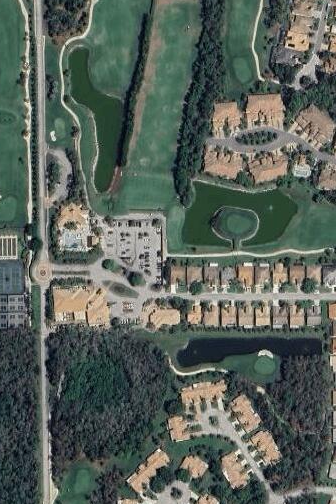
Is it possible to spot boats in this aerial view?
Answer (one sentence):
No, there appears to be no boat in this shot.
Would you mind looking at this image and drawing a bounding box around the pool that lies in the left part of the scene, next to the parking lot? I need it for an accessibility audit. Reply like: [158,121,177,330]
[60,231,89,249]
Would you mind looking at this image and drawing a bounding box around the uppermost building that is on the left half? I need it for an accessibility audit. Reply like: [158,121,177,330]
[58,204,87,230]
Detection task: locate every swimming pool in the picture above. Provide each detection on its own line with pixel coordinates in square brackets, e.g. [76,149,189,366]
[294,163,311,176]
[60,231,89,249]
